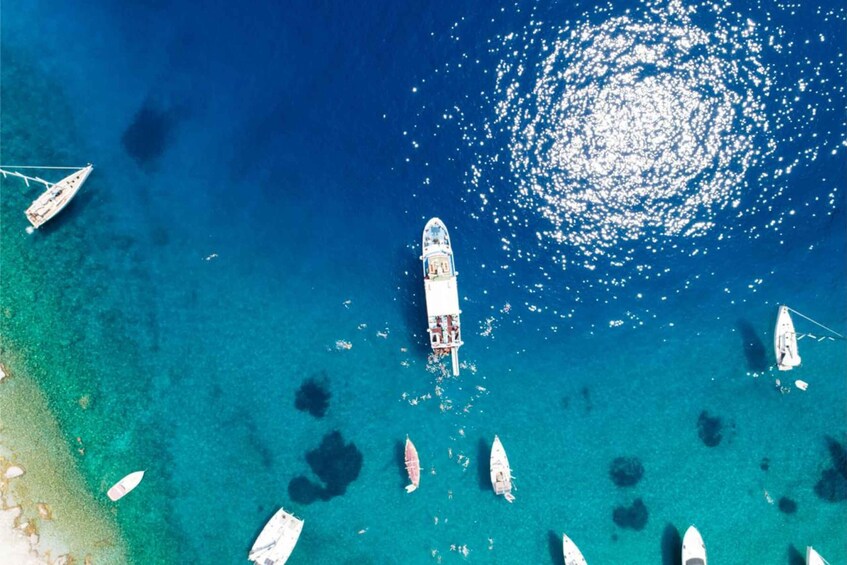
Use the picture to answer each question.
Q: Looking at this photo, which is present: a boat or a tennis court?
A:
boat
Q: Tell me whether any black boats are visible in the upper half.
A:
No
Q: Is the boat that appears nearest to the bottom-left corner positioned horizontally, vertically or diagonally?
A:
diagonally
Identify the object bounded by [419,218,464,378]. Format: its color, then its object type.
white boat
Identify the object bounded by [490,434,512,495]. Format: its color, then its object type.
white boat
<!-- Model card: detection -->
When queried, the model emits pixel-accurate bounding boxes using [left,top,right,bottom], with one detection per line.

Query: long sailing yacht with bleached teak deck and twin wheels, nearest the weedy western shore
[0,164,93,228]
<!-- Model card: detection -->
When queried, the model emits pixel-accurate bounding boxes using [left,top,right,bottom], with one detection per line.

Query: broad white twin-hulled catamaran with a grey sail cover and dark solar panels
[246,505,304,565]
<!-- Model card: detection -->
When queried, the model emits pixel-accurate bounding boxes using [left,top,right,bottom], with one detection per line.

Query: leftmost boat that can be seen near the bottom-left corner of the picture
[108,470,146,501]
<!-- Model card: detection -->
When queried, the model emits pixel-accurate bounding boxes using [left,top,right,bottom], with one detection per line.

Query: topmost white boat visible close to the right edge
[773,304,835,369]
